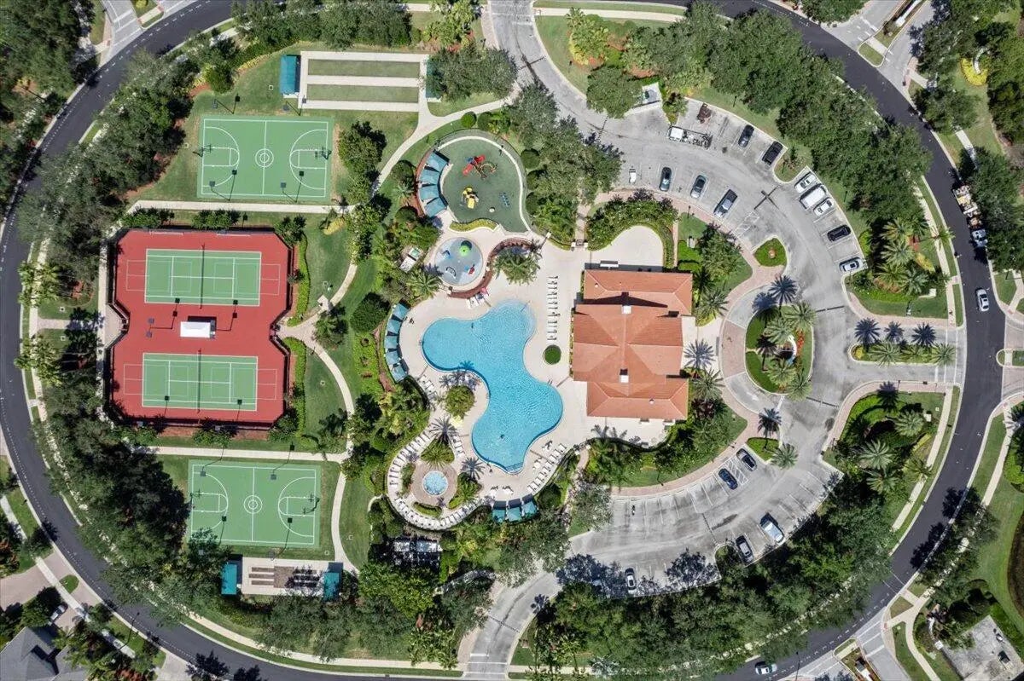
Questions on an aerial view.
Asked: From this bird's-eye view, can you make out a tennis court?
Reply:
Yes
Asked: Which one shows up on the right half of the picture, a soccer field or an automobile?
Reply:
automobile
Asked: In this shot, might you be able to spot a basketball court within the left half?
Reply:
Yes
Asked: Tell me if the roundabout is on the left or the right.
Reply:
right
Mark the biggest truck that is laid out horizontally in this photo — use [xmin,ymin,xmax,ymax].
[667,126,714,148]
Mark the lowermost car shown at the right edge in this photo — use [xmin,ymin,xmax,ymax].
[974,288,989,313]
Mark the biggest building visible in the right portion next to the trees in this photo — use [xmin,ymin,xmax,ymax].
[573,263,693,420]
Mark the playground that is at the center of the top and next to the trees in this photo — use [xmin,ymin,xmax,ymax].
[413,125,538,232]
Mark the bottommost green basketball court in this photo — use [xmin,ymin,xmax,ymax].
[186,462,322,547]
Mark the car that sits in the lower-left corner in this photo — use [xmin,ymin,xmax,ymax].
[47,603,69,625]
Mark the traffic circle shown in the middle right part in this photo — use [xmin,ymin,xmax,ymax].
[744,302,814,394]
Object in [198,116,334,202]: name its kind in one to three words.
basketball court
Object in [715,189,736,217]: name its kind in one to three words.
truck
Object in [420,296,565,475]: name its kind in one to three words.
swimming pool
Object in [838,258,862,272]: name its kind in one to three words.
car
